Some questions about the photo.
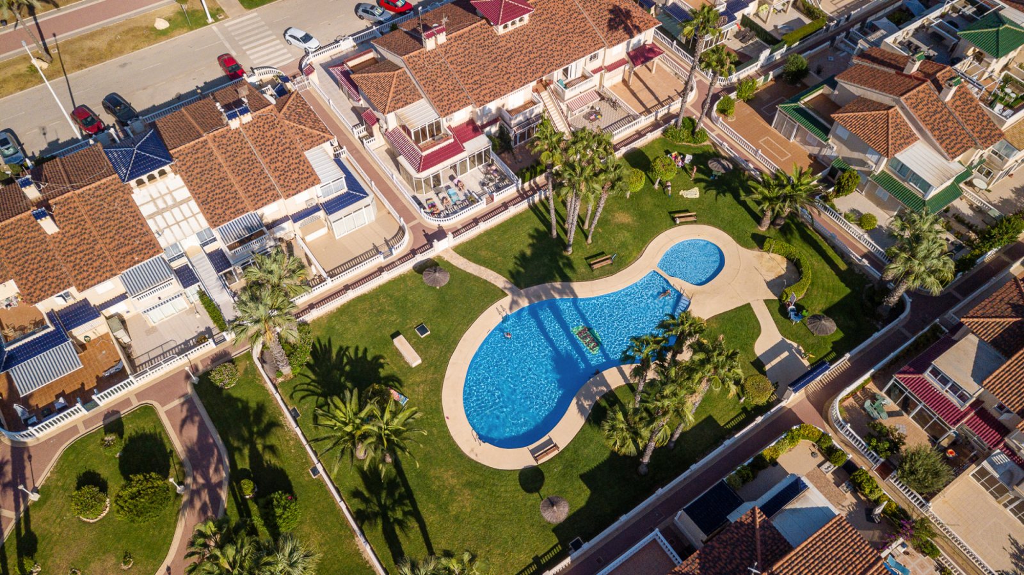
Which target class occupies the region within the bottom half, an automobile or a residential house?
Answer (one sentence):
It is a residential house that can be seen within the bottom half.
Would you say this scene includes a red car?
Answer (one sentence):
Yes, the photo shows a red car.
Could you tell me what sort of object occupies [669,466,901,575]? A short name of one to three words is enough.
house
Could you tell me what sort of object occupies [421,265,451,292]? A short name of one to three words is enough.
umbrella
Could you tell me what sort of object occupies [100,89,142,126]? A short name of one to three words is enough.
car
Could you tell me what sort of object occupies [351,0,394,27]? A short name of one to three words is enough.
car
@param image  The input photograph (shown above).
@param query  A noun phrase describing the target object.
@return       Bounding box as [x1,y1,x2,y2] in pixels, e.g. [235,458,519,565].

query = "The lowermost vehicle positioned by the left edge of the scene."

[0,128,29,168]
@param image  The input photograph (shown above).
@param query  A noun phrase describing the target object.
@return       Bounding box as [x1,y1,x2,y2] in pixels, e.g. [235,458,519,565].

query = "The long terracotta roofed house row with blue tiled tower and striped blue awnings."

[0,74,374,403]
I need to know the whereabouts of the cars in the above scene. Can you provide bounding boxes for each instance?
[212,49,251,84]
[0,128,29,168]
[375,0,418,17]
[100,89,142,126]
[281,23,323,55]
[67,101,110,138]
[351,0,394,27]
